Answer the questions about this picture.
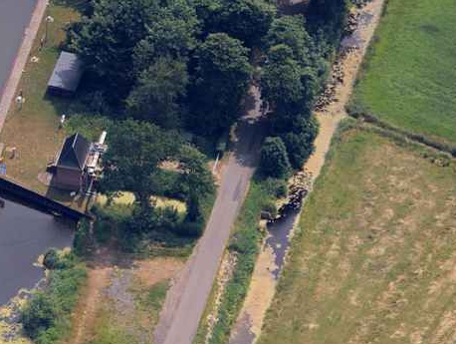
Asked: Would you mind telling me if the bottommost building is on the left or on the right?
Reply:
left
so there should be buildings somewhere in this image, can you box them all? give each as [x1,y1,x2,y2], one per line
[45,130,92,184]
[49,53,82,103]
